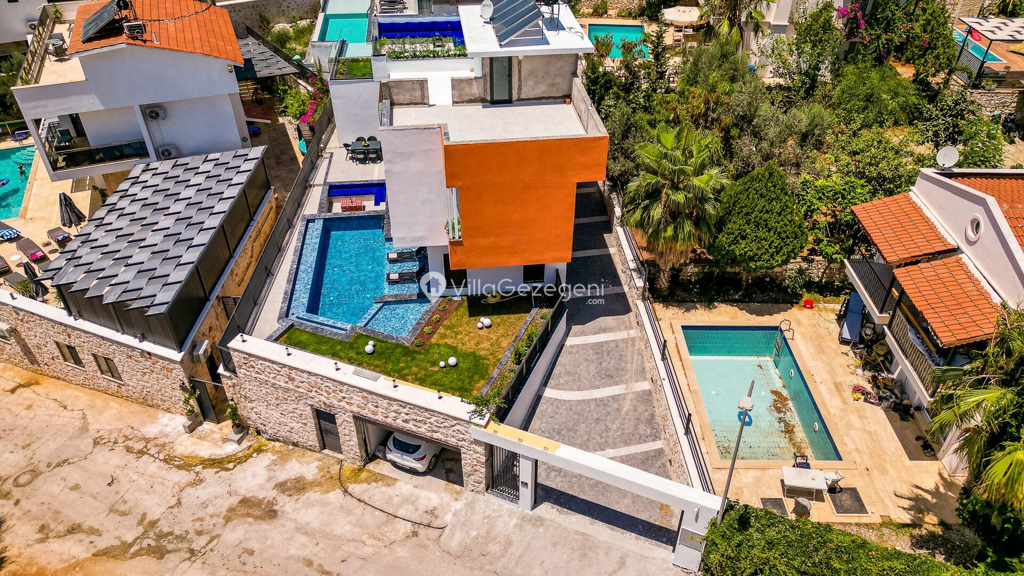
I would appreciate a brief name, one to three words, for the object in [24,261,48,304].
umbrella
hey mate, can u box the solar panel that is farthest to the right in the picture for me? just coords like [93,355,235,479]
[483,0,543,46]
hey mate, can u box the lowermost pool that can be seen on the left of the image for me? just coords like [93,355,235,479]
[265,204,443,370]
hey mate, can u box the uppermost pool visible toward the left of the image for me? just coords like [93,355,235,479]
[307,0,374,127]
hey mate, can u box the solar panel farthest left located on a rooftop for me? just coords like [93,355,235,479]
[84,5,122,60]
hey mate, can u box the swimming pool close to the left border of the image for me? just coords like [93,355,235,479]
[0,140,39,223]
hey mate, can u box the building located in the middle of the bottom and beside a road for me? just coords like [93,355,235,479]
[351,362,505,494]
